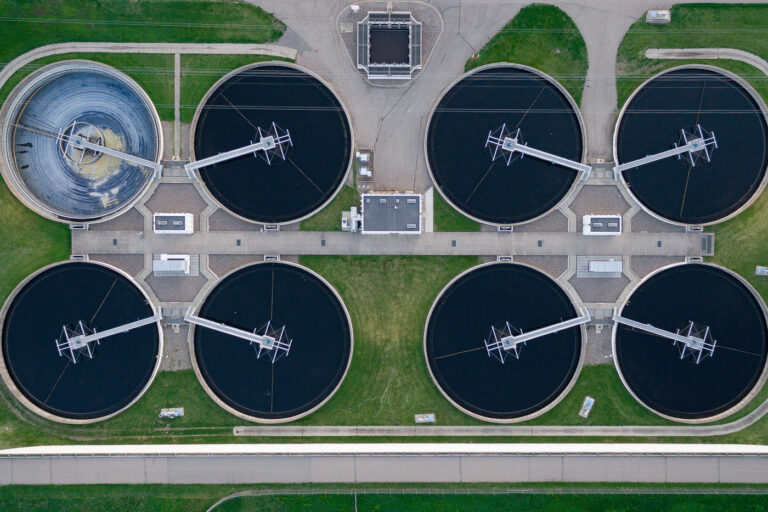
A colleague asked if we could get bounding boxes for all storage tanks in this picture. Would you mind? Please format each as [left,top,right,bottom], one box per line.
[610,262,768,424]
[189,260,353,424]
[190,61,355,224]
[0,59,166,223]
[424,63,588,225]
[424,261,587,424]
[0,260,166,424]
[611,64,768,226]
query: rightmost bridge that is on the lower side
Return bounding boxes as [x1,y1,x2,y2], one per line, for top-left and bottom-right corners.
[614,304,704,352]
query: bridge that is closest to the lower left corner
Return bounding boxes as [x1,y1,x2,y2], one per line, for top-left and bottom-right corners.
[70,303,162,350]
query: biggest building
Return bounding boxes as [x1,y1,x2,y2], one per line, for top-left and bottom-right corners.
[361,193,423,235]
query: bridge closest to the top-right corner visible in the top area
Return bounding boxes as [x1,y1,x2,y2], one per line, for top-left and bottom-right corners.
[615,136,706,184]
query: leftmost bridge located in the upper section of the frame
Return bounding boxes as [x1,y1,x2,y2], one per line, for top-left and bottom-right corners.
[70,133,162,180]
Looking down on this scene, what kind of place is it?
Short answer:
industrial area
